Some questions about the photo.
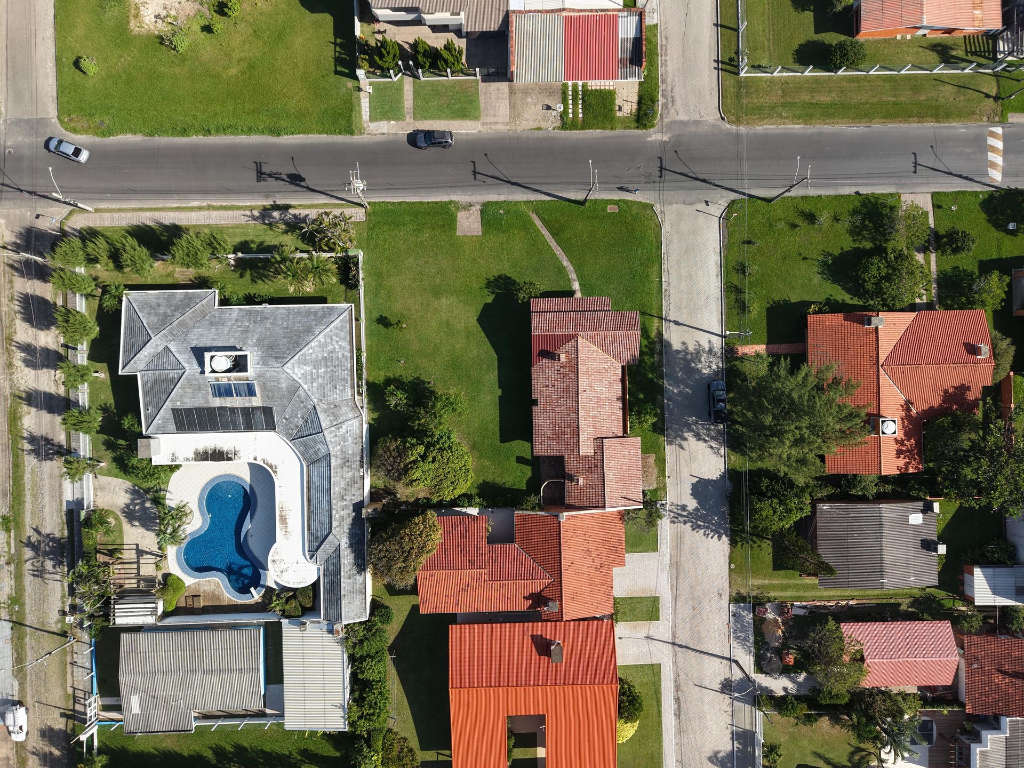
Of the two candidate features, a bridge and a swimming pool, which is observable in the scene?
swimming pool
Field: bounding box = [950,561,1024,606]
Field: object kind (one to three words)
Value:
shed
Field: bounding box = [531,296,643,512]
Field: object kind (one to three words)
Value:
house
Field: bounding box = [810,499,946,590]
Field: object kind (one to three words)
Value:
house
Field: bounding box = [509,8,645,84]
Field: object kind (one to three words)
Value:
shed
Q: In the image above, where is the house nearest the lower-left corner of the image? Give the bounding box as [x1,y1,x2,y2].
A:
[118,622,273,734]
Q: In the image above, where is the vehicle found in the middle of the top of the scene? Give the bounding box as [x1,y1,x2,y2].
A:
[416,128,453,149]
